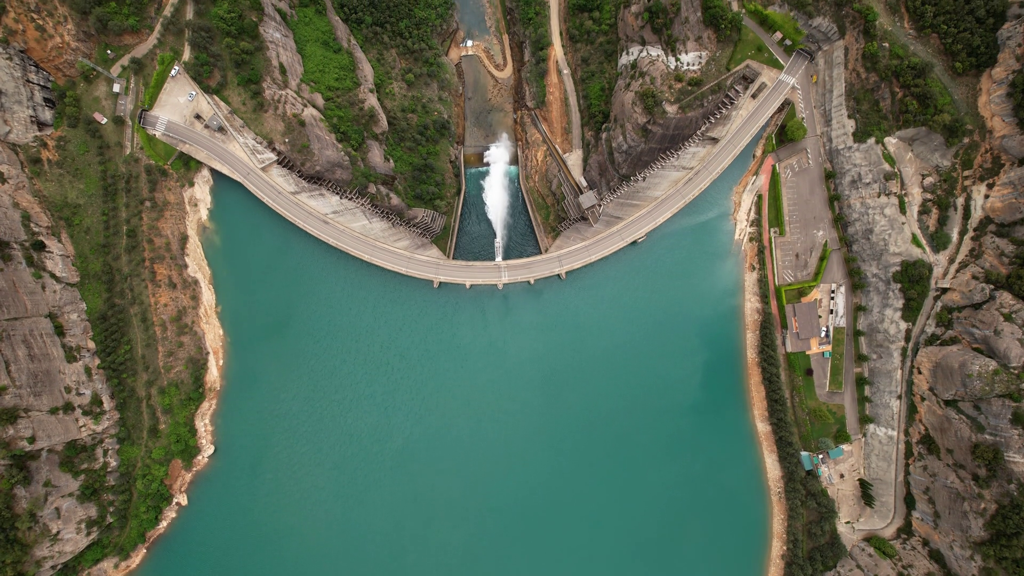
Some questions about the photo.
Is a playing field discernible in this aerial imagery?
No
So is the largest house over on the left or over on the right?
right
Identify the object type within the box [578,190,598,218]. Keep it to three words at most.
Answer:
building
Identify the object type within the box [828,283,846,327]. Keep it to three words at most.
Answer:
building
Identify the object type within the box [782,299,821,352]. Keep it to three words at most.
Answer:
house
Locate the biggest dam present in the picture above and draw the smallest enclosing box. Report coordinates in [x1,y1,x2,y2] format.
[138,45,813,290]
